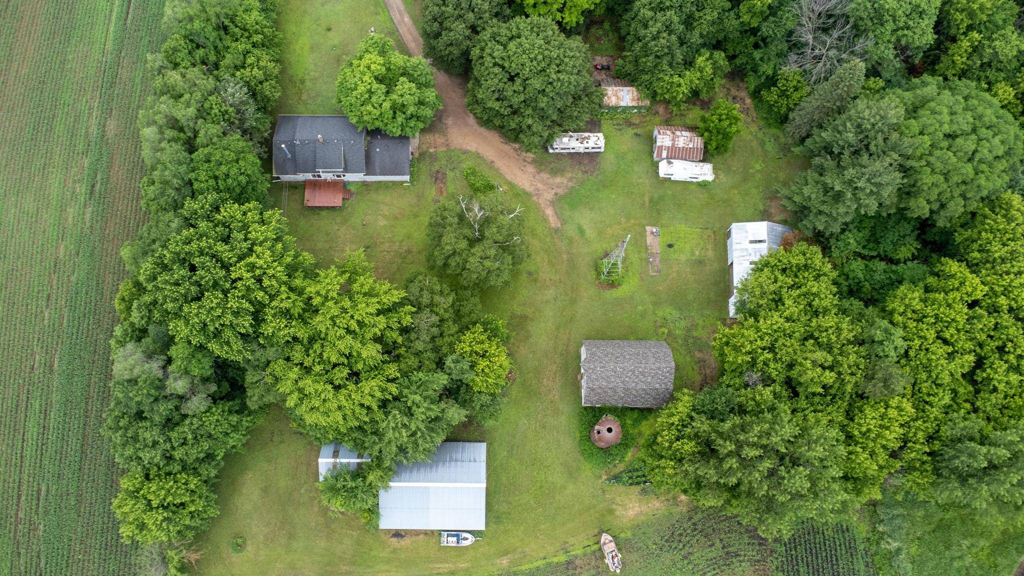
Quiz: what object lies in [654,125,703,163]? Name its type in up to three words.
shed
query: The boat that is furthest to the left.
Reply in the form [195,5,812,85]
[441,531,474,546]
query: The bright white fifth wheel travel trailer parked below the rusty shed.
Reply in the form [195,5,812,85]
[656,162,713,186]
